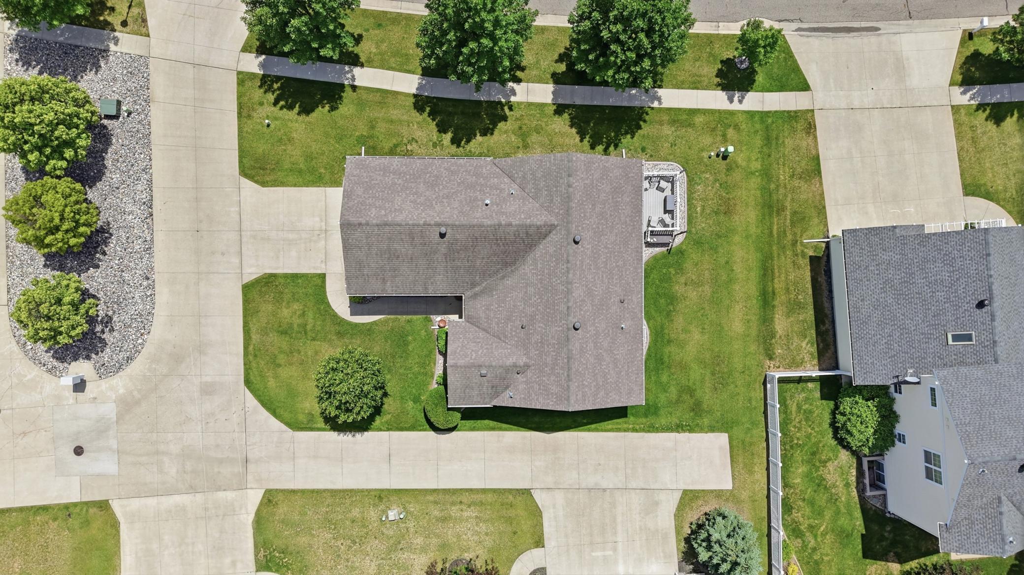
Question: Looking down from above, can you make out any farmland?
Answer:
No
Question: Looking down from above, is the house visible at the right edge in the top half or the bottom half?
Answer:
bottom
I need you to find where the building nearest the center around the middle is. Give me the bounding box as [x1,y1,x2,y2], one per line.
[338,147,646,412]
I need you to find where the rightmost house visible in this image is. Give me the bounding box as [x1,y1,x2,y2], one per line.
[803,222,1024,559]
